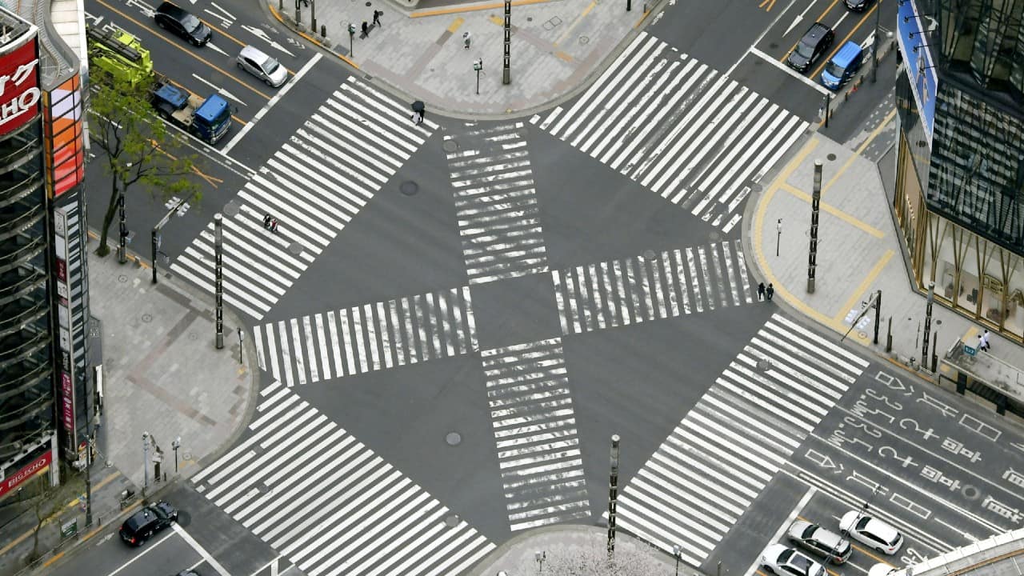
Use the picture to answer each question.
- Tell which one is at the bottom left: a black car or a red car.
black car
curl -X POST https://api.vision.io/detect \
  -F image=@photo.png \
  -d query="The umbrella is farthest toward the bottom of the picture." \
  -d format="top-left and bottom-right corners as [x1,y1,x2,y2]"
[411,103,427,117]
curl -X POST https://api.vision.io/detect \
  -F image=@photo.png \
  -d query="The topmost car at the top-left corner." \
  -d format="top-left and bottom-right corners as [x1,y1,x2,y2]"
[150,0,215,47]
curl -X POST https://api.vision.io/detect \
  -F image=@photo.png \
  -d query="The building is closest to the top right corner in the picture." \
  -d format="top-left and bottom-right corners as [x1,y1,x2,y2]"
[877,0,1024,344]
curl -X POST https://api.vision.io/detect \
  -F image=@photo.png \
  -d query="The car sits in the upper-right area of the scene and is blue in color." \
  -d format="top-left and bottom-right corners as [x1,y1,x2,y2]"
[818,38,865,91]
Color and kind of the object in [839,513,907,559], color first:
white car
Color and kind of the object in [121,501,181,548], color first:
black car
